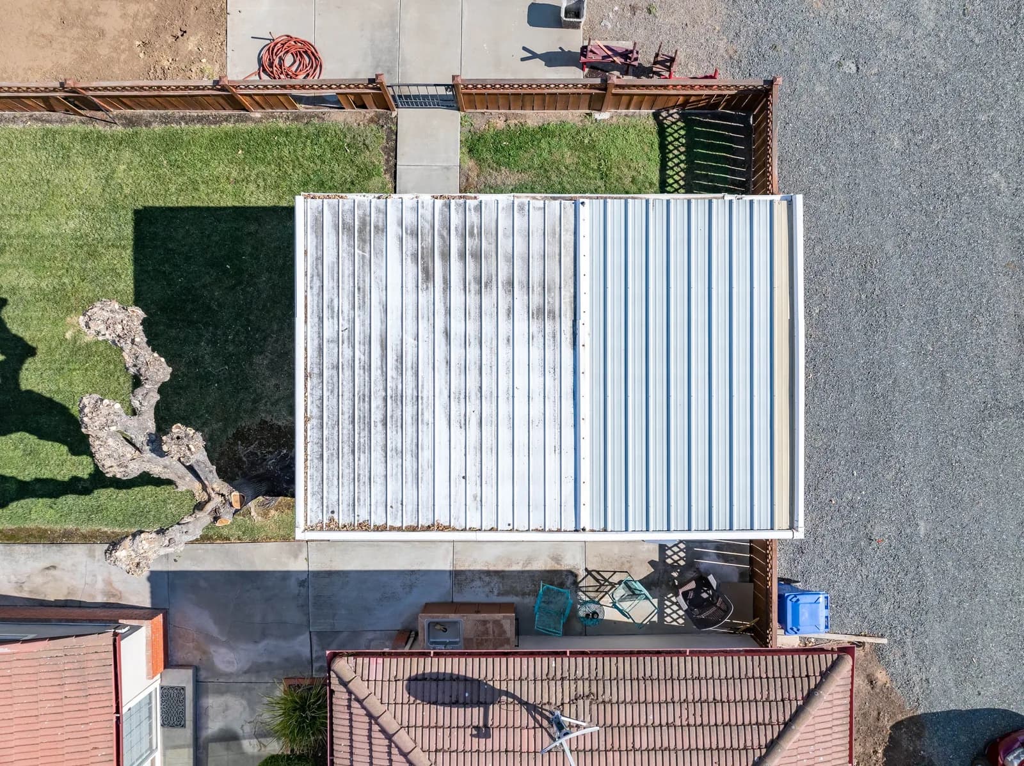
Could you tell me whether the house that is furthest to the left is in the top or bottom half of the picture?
bottom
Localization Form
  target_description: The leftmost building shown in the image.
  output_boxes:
[0,607,167,766]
